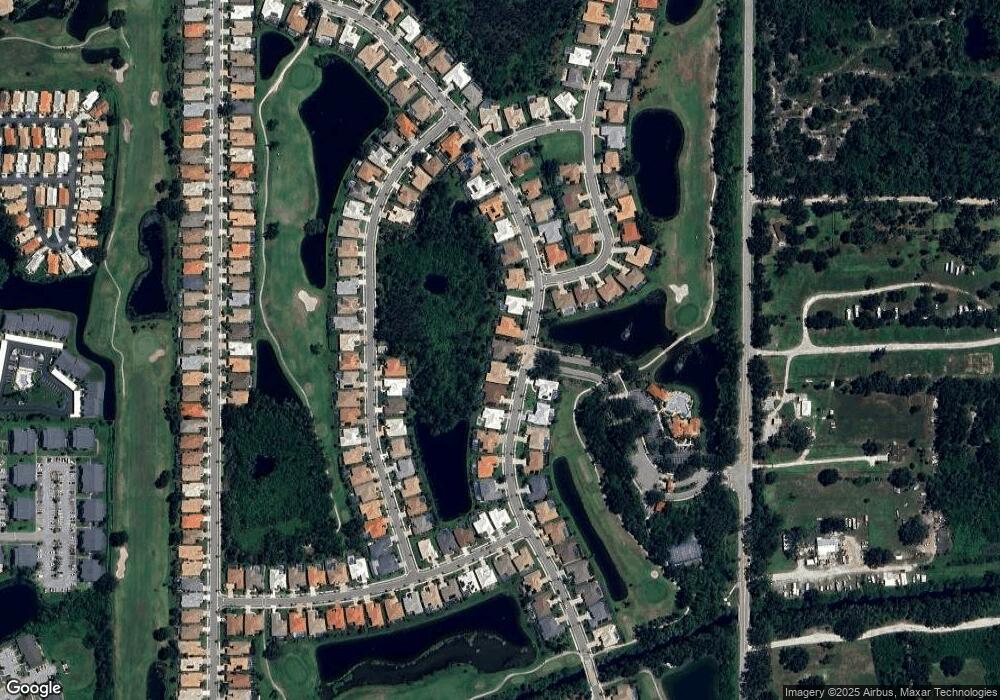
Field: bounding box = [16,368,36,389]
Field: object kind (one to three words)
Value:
swimming pool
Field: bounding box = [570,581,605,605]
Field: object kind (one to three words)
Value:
house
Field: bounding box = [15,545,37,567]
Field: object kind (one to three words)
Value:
building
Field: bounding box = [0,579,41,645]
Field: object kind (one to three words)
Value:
pond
